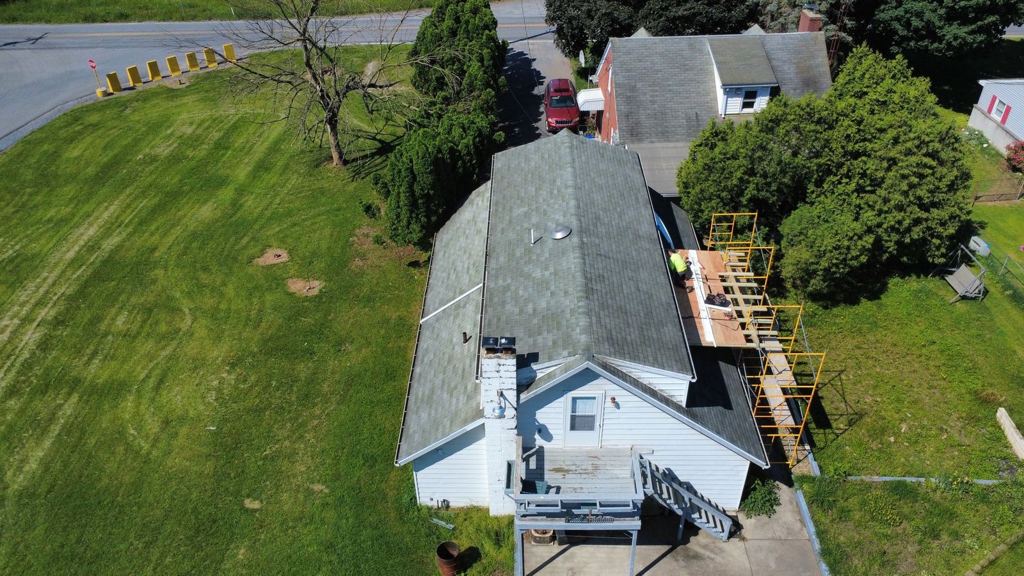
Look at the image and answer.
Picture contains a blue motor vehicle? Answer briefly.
No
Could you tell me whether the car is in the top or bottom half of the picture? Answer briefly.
top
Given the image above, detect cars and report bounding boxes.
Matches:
[543,77,581,129]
